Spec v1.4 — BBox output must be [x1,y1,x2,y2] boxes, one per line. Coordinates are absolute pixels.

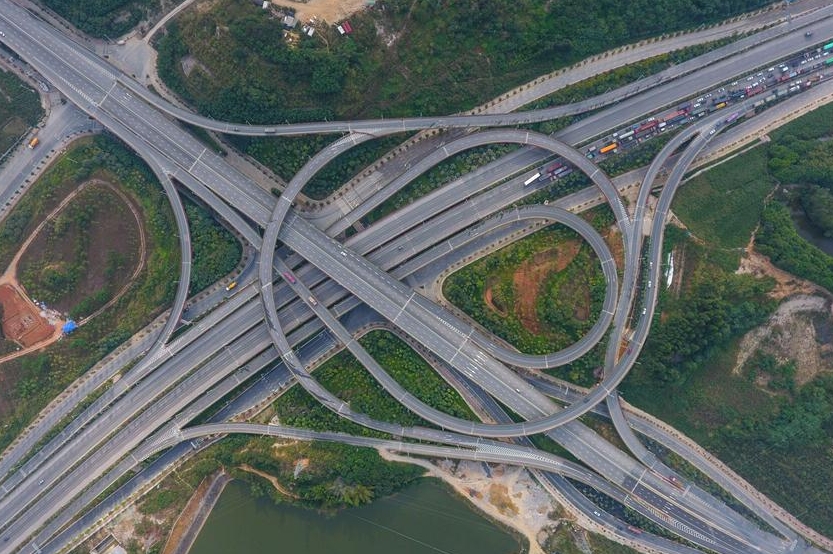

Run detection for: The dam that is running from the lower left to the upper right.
[158,465,231,554]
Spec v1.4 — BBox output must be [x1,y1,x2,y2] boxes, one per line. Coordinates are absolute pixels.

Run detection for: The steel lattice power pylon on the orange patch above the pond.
[292,456,308,478]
